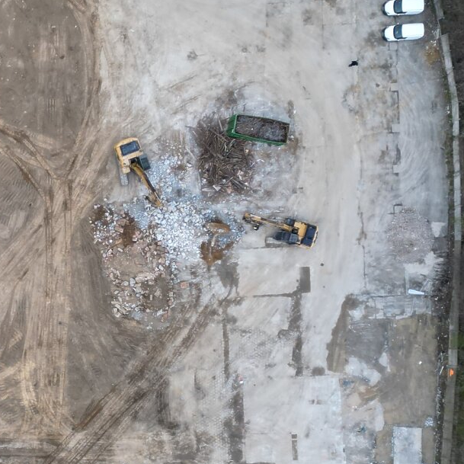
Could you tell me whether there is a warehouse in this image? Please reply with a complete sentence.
No, I find no warehouse anywhere in the image.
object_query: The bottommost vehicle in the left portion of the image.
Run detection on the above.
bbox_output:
[112,131,161,213]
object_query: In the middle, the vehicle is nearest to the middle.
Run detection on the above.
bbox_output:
[228,211,328,250]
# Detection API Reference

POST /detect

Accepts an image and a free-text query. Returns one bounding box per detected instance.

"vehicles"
[112,131,161,213]
[228,211,328,250]
[381,0,429,18]
[381,21,429,42]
